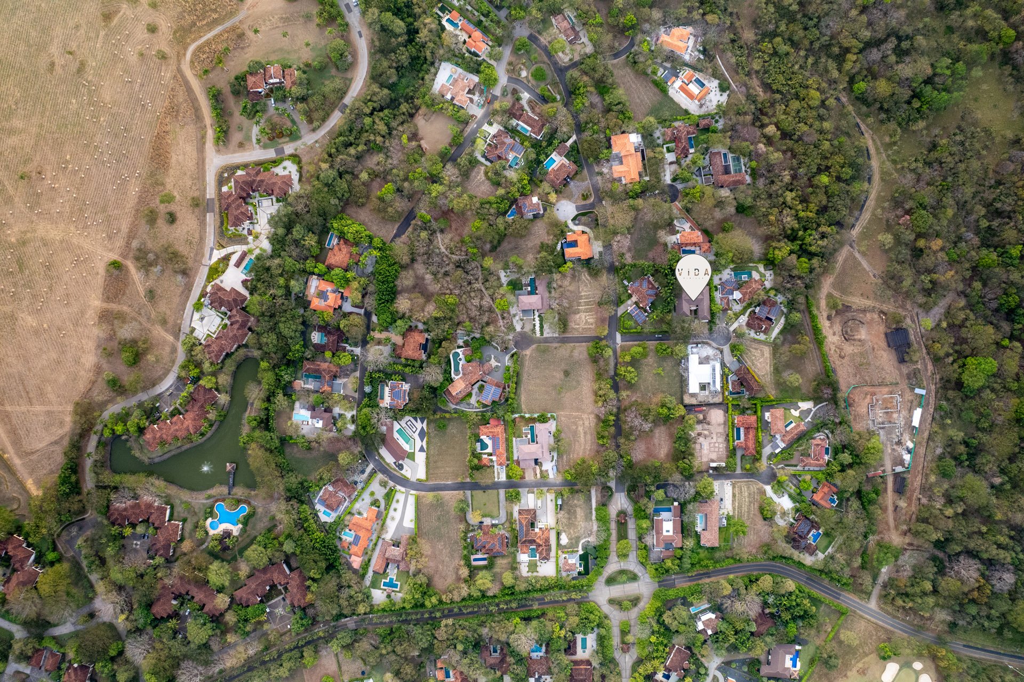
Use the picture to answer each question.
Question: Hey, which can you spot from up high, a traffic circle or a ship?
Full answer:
Of the two, only a traffic circle appears.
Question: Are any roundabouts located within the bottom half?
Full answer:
Yes, a roundabout is visible within the bottom half.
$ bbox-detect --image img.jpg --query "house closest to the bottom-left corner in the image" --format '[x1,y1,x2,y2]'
[31,649,63,670]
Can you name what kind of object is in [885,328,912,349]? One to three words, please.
shed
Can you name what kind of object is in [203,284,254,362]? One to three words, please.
house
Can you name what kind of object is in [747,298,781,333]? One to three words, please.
house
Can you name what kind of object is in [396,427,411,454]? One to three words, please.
swimming pool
